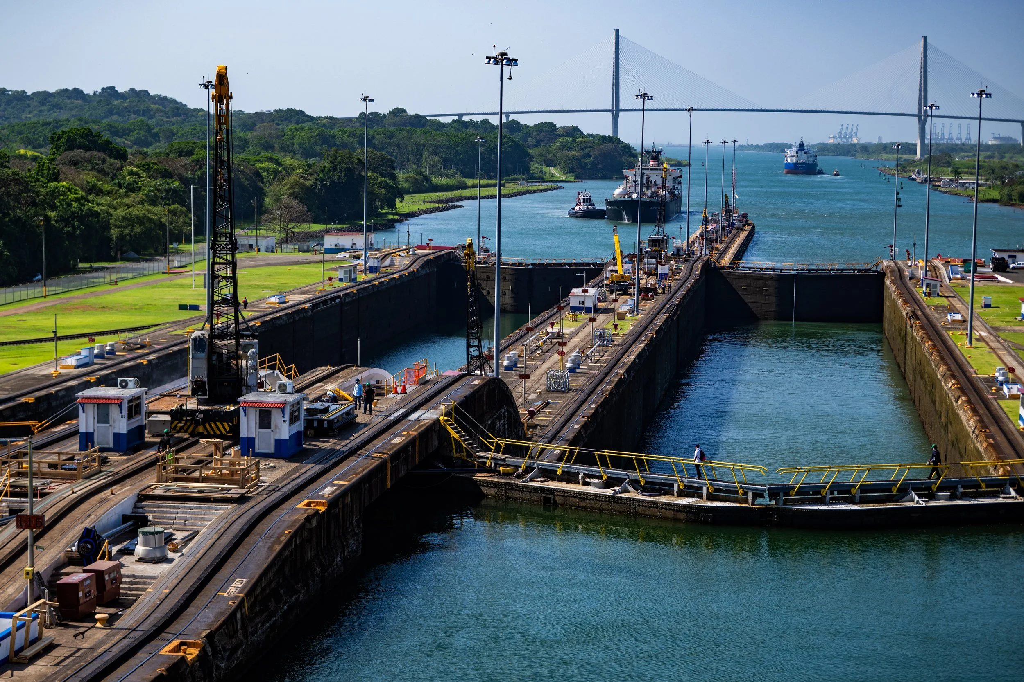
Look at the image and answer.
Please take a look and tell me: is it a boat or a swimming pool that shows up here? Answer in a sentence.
I can see a boat in this picture.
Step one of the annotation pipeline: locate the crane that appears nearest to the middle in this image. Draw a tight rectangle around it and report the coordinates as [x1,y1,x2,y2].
[461,223,510,373]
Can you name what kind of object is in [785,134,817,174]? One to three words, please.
ship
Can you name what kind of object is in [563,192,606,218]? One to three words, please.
boat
